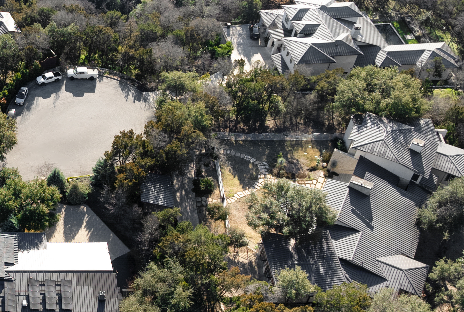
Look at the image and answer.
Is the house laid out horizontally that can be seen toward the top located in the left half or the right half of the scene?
right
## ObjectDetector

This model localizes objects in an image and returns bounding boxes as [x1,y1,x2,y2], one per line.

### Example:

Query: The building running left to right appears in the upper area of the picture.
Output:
[259,0,459,89]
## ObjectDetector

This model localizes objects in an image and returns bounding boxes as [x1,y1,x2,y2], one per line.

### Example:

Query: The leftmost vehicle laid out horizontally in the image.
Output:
[35,69,64,85]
